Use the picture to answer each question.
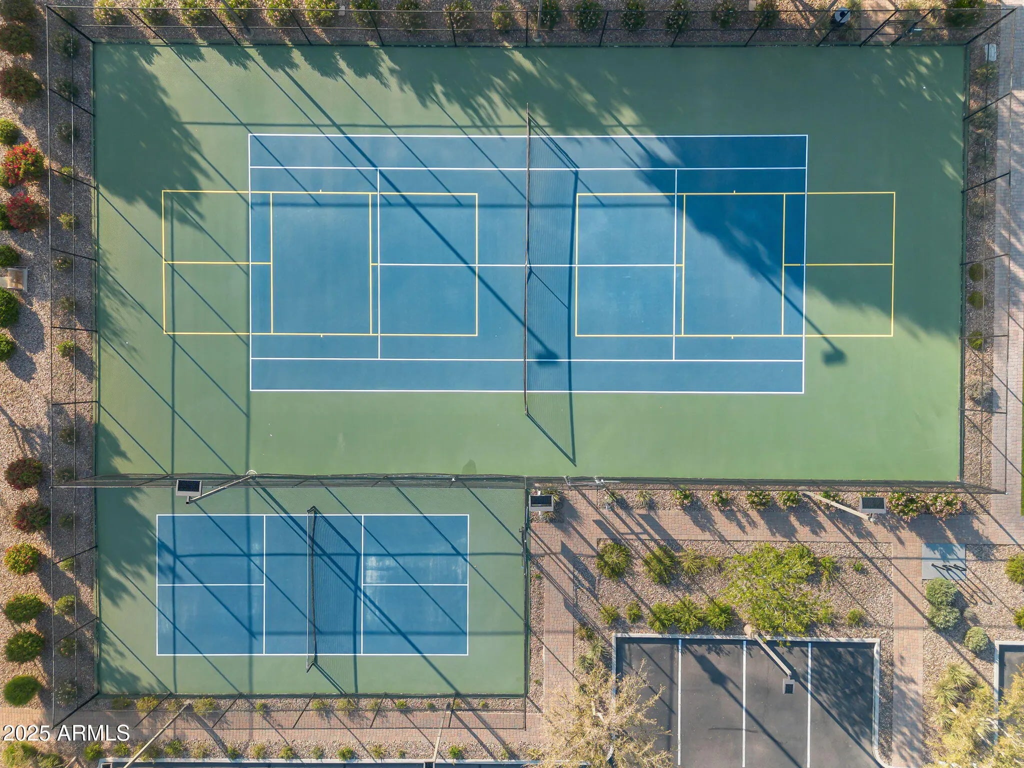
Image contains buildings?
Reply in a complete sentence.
No, there isn't any building down there.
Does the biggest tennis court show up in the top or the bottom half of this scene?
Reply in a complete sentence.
The biggest tennis court is in the top half of the image.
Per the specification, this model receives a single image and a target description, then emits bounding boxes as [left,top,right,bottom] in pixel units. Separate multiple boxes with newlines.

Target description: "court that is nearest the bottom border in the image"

[93,481,531,700]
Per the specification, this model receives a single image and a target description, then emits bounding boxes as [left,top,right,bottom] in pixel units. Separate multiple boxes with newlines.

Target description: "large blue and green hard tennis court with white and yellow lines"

[90,37,971,483]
